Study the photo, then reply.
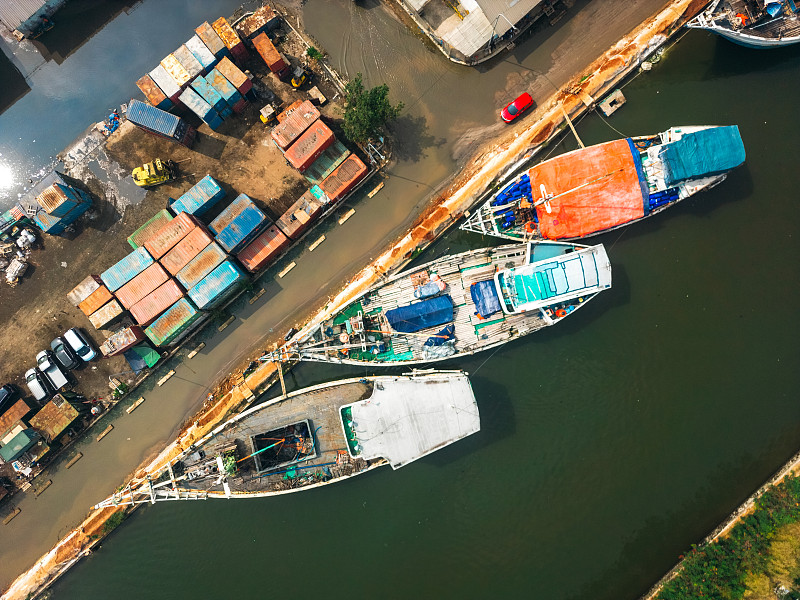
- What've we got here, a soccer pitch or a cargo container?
cargo container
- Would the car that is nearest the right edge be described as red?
Yes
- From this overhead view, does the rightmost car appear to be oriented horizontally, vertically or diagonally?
diagonally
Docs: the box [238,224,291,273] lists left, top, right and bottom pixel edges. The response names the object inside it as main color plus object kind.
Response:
red shipping container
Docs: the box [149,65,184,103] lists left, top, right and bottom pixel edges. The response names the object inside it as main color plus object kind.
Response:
white shipping container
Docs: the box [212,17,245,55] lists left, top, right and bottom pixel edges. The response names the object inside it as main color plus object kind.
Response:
orange shipping container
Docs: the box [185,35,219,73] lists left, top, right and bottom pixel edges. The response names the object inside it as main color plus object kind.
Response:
white shipping container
